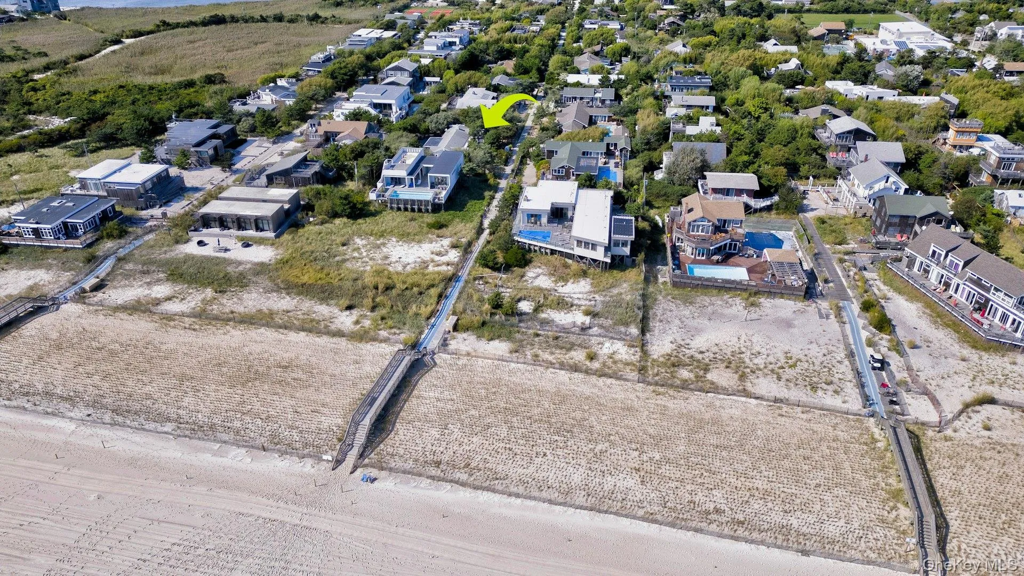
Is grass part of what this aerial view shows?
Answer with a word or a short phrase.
Yes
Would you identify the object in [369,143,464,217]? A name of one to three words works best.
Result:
house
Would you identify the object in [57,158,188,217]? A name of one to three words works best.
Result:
house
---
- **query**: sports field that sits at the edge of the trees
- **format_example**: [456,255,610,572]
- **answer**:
[811,13,905,27]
